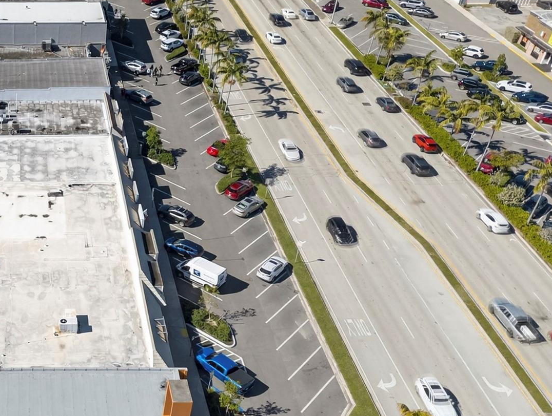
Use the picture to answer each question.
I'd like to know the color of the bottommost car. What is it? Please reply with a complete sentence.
From above, the bottommost car appears white.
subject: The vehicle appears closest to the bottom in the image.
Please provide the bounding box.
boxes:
[416,377,460,416]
